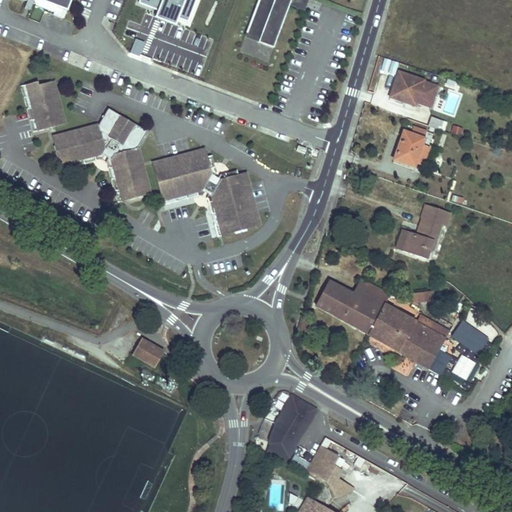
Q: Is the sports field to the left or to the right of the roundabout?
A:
to the left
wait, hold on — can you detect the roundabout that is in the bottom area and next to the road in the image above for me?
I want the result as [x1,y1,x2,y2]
[192,296,290,394]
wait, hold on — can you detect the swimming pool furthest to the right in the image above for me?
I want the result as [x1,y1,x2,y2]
[433,88,463,118]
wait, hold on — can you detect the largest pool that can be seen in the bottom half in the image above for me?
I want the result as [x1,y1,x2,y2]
[268,480,286,511]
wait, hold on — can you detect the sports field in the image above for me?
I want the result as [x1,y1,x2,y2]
[0,318,190,512]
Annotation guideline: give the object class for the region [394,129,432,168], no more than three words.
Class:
house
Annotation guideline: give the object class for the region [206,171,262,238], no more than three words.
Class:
building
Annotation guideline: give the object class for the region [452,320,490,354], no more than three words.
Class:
building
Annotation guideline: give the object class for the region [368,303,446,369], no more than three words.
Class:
house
